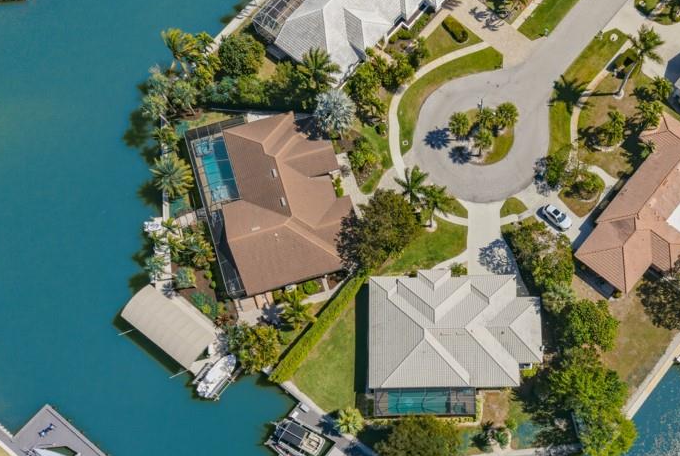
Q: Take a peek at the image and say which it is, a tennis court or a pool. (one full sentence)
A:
Looking from above, you can make out a pool.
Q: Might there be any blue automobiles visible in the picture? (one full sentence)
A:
No, the photo shows no blue automobile.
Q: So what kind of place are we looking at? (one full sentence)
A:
It's a residential area.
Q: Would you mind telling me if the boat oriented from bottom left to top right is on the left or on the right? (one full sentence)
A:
The boat oriented from bottom left to top right is on the left side of the image.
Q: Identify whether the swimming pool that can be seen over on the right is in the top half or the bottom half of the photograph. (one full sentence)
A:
Seen from above, the swimming pool that can be seen over on the right lies in the bottom half of the view.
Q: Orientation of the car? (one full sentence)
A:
What the image shows is the car lying on a diagonal.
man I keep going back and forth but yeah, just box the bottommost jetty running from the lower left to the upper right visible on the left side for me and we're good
[191,337,224,376]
